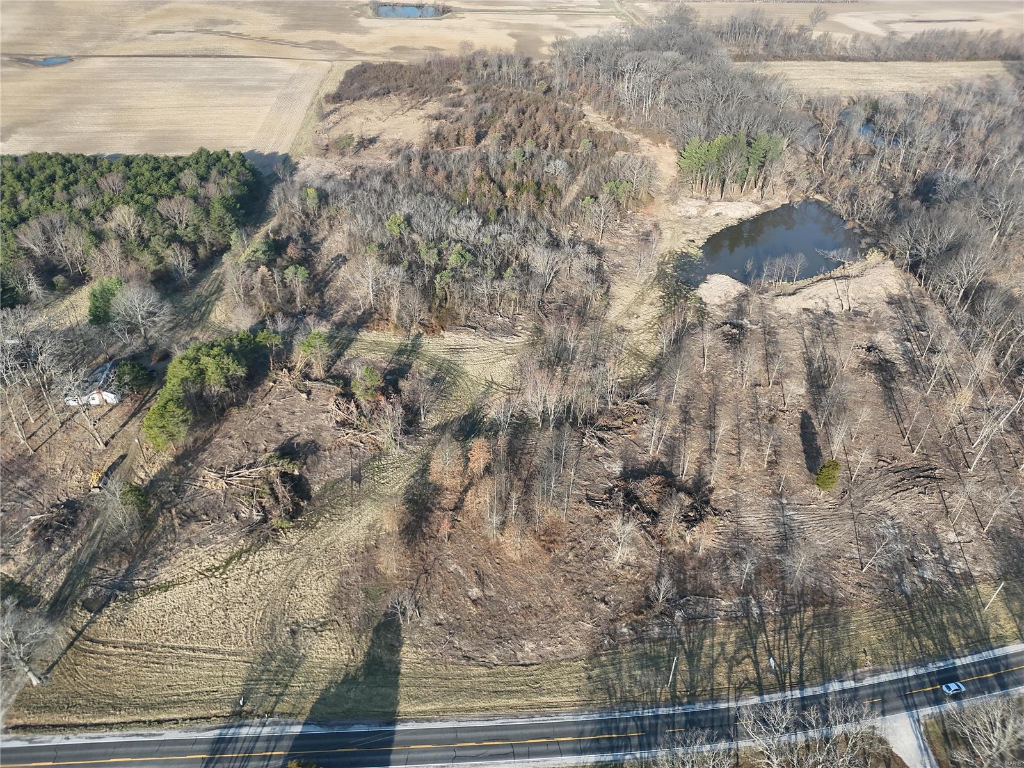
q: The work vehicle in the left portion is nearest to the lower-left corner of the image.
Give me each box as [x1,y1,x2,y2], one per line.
[83,472,106,491]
